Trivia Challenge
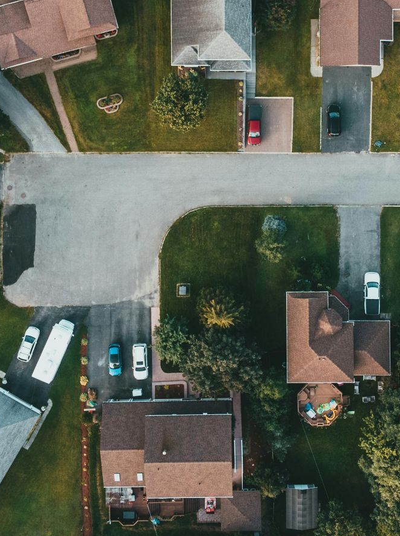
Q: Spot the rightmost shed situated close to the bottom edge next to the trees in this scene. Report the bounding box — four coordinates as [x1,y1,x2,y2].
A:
[286,479,319,530]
